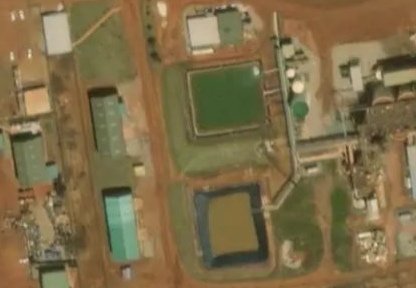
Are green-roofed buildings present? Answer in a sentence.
Yes, this view includes a green-roofed building.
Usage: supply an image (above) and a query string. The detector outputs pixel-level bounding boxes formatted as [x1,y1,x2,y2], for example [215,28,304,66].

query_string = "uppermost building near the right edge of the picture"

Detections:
[383,70,416,87]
